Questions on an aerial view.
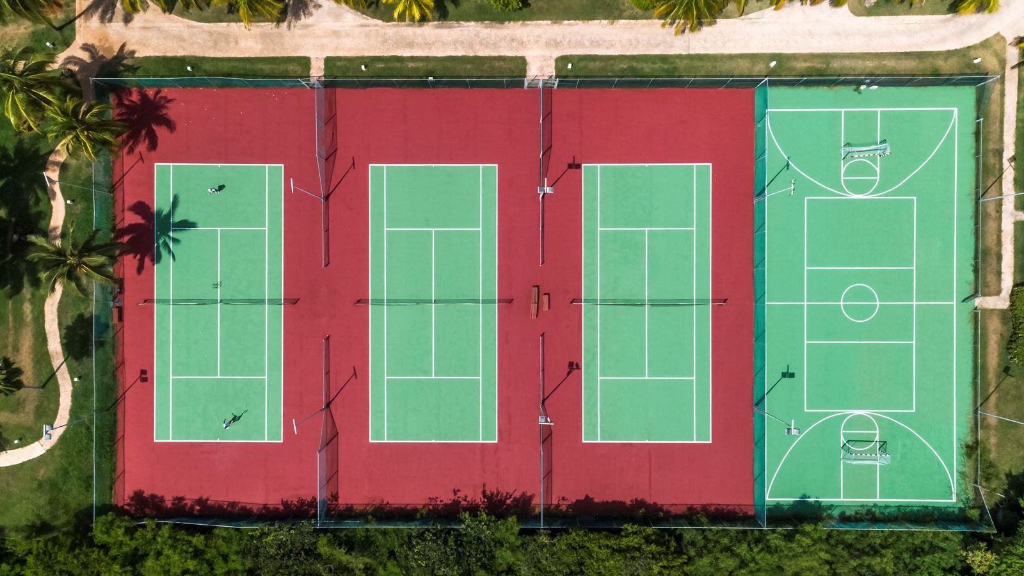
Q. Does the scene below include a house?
No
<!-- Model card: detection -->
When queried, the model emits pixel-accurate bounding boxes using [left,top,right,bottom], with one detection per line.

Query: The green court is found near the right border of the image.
[767,86,976,519]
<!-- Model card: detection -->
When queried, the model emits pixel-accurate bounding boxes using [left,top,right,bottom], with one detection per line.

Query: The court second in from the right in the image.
[541,88,755,518]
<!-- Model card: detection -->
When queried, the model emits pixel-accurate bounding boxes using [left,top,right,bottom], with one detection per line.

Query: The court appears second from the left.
[325,88,541,517]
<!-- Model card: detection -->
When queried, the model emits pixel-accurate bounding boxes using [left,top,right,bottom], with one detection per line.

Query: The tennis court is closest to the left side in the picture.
[114,88,325,518]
